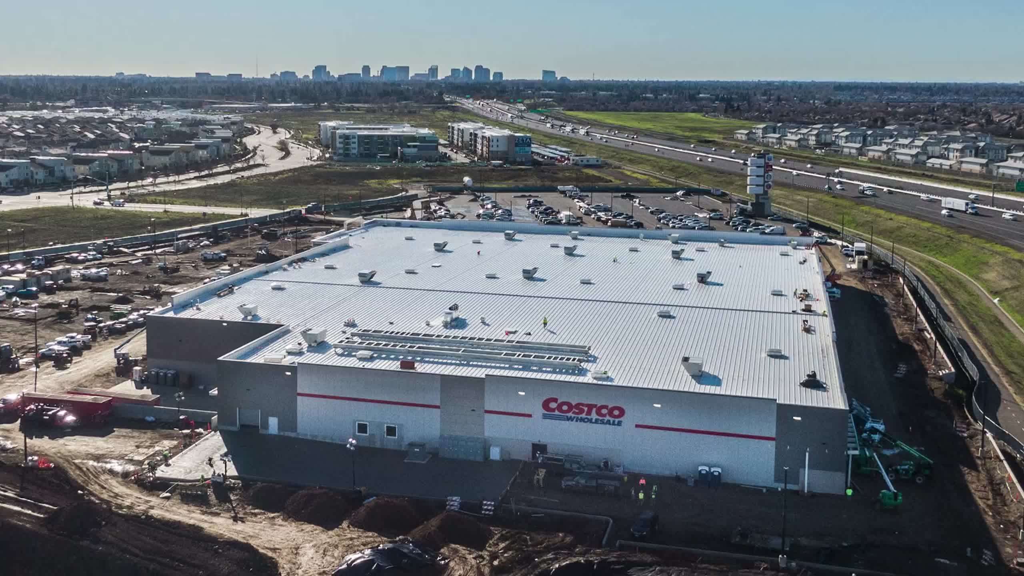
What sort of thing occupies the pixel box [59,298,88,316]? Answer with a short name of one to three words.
work vehicle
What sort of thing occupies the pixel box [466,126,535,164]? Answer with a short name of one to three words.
building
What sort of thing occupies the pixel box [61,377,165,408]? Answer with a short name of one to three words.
trailer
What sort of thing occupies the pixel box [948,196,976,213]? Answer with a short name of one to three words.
vehicle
